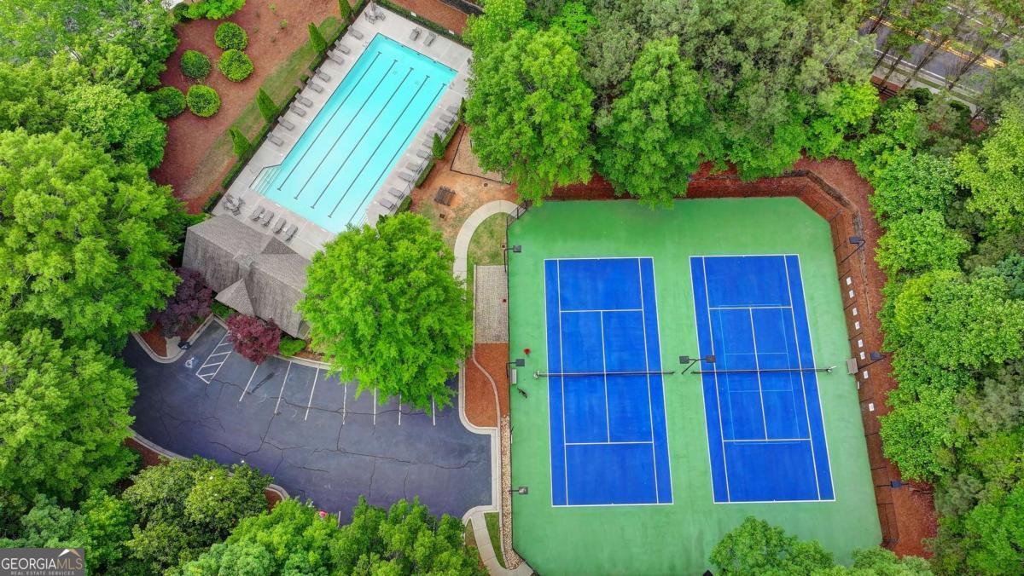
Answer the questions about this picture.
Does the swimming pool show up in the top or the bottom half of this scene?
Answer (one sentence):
You can find the swimming pool in the top half.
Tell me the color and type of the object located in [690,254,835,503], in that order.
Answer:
blue tennis court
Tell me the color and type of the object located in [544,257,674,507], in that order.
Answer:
blue tennis court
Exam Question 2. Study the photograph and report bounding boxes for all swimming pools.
[244,29,462,249]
